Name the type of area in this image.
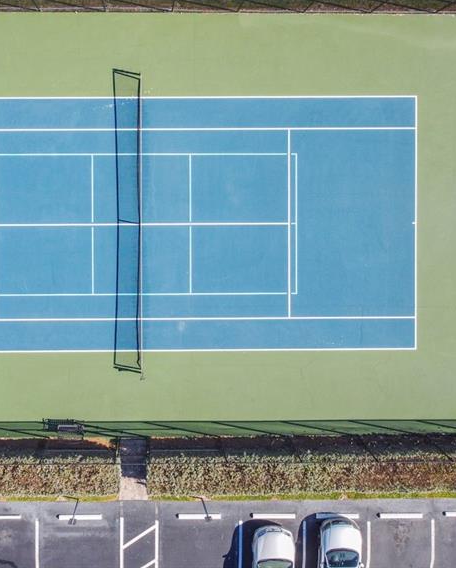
sports ground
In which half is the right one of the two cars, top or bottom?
bottom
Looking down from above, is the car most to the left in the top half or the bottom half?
bottom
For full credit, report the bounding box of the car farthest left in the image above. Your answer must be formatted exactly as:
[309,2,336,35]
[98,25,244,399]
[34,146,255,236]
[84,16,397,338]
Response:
[250,525,294,568]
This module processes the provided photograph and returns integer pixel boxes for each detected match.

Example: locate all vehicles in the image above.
[316,517,369,568]
[250,525,294,568]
